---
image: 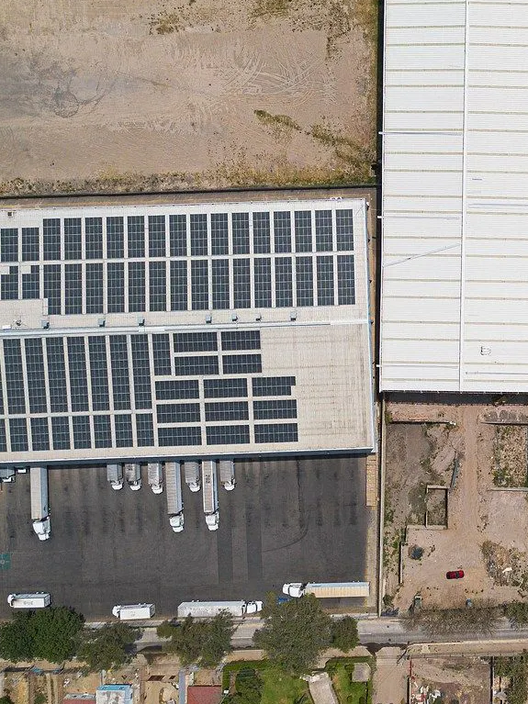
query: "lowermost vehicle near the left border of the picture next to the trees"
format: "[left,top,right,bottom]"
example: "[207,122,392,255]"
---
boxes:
[4,593,51,609]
